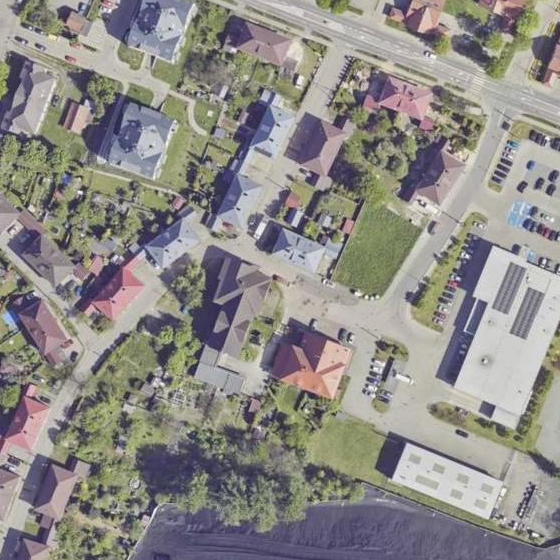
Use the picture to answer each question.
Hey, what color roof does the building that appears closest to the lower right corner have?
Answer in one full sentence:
The roof of the building that appears closest to the lower right corner is white.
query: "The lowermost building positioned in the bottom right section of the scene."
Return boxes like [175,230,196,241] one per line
[392,443,504,519]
